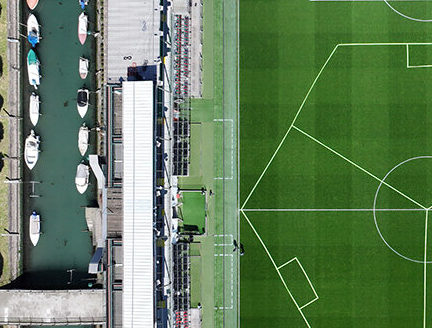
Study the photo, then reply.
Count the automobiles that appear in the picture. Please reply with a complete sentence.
The photo contains no automobiles.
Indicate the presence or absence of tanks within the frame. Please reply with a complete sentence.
No, the picture doesn't show any tank.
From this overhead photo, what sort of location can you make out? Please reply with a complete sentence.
This looks like a sports ground.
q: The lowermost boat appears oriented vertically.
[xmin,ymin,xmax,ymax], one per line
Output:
[29,212,42,247]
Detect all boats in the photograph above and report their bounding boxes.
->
[78,14,89,45]
[29,212,42,247]
[26,14,40,45]
[79,55,89,80]
[29,92,41,127]
[23,136,41,170]
[77,125,89,156]
[26,49,42,86]
[75,163,90,195]
[75,88,89,119]
[27,0,40,12]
